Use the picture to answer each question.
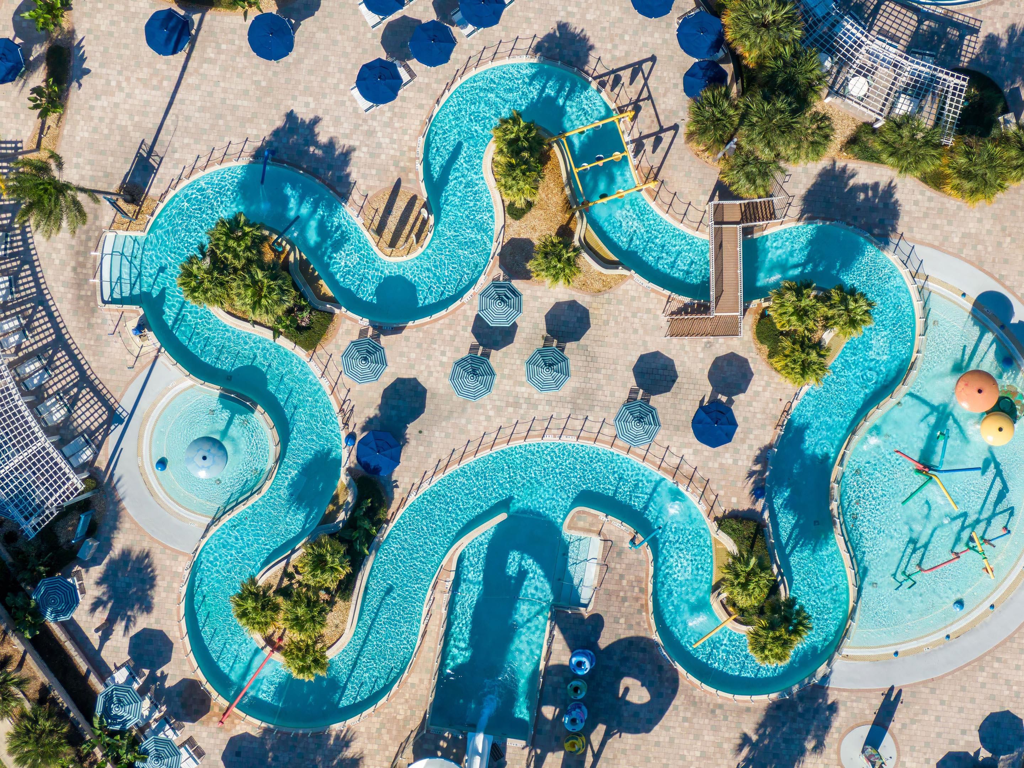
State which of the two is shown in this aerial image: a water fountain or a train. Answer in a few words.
water fountain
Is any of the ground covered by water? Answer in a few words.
Yes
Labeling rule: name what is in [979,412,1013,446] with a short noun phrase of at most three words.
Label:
fountain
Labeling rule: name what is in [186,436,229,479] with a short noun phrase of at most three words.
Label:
fountain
